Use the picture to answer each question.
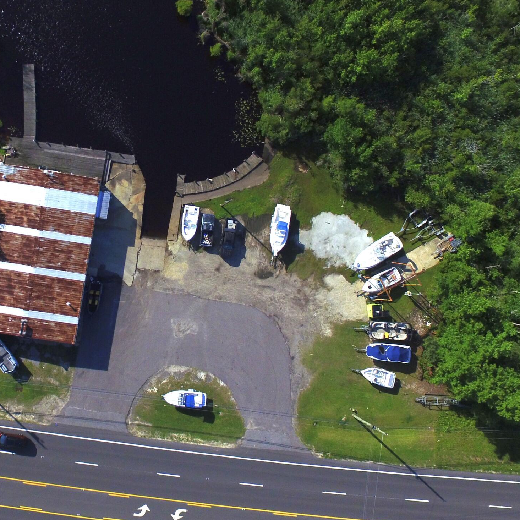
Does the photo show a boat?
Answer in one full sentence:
Yes, looking at the shot, I can spot a boat.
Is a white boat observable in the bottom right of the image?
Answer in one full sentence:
Yes, a white boat is visible in the bottom right of the image.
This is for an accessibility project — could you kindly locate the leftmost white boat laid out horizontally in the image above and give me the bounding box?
[163,387,207,408]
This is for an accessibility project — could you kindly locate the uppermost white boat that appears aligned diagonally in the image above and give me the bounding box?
[356,233,402,268]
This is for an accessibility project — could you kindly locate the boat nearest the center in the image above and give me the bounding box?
[270,200,292,258]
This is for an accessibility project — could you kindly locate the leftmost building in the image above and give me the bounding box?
[0,165,100,345]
